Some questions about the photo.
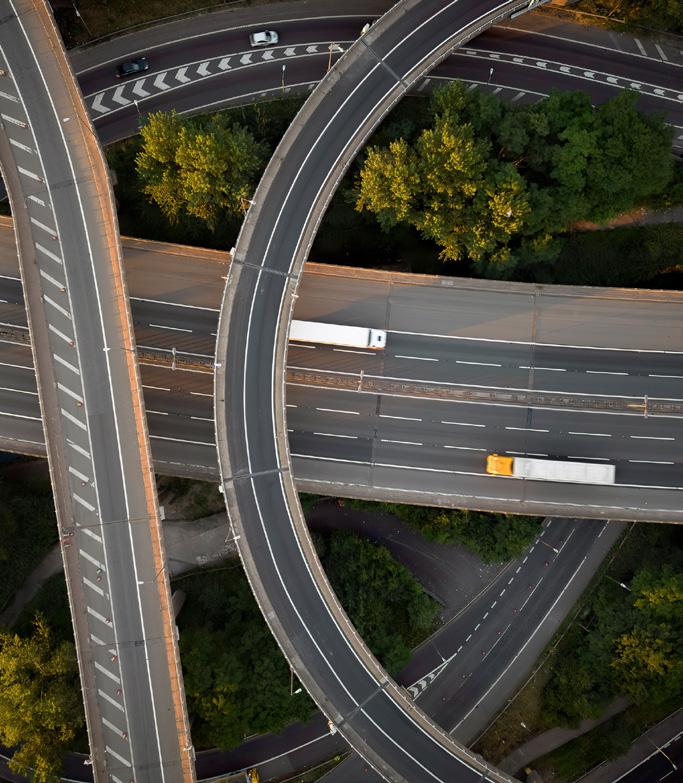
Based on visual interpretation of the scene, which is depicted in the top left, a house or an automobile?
automobile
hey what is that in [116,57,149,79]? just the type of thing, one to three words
car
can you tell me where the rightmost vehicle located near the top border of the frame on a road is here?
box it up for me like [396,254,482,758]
[249,31,278,49]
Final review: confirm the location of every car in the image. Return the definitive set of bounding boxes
[116,57,149,79]
[249,31,278,49]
